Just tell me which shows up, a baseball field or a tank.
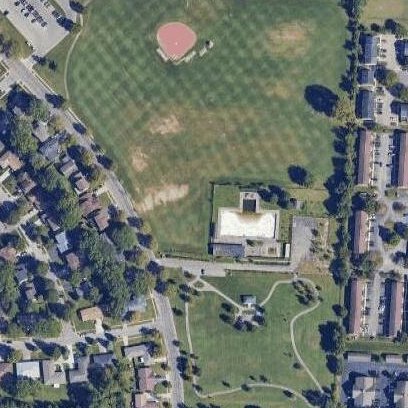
baseball field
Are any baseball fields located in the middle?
No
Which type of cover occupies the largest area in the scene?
grass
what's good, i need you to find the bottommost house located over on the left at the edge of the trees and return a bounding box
[132,392,153,408]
